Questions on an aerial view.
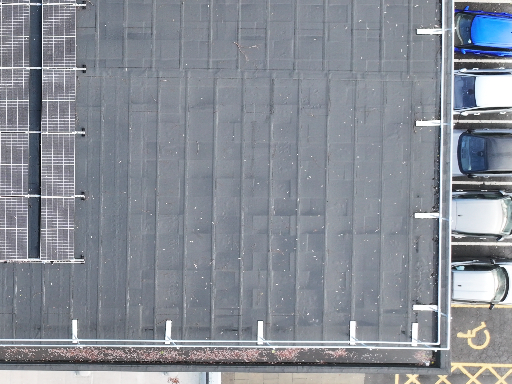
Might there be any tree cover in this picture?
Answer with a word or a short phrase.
No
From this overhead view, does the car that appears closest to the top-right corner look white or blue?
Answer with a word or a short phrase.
blue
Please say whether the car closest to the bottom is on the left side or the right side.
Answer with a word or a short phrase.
right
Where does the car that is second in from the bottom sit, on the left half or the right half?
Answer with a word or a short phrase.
right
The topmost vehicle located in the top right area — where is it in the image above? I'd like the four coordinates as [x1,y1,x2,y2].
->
[455,0,512,58]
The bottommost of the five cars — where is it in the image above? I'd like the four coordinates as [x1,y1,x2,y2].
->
[452,256,512,312]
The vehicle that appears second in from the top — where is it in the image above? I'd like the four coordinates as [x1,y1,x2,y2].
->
[454,62,512,121]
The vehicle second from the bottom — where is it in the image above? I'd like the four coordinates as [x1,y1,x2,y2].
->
[453,186,512,246]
